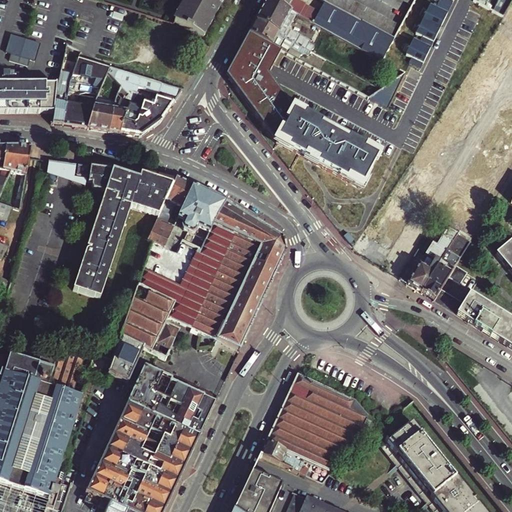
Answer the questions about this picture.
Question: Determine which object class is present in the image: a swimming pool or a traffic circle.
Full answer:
The image shows a traffic circle.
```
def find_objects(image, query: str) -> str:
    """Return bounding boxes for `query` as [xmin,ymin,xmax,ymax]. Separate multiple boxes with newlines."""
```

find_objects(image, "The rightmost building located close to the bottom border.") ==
[434,472,490,512]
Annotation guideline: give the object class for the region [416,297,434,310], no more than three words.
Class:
vehicle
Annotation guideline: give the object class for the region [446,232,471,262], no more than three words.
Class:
house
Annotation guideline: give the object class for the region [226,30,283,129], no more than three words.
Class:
building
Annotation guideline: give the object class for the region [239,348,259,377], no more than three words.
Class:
bus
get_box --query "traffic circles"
[276,252,372,348]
